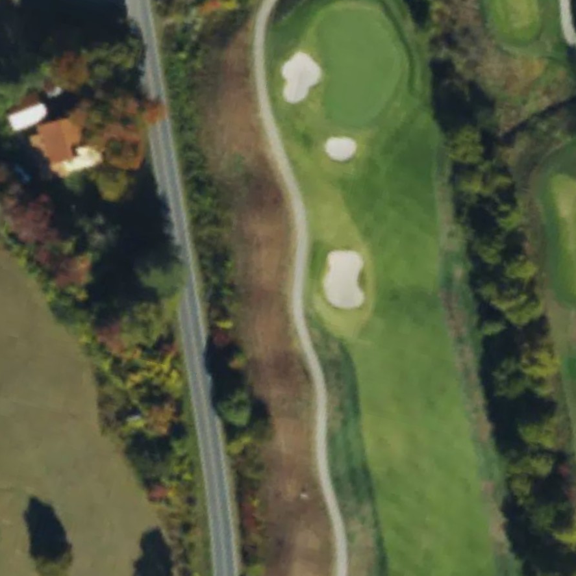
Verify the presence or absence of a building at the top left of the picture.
Yes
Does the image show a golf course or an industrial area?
golf course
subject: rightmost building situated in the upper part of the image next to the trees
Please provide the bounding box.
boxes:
[29,117,87,175]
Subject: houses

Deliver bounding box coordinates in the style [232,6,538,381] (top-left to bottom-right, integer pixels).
[29,117,87,175]
[8,99,48,131]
